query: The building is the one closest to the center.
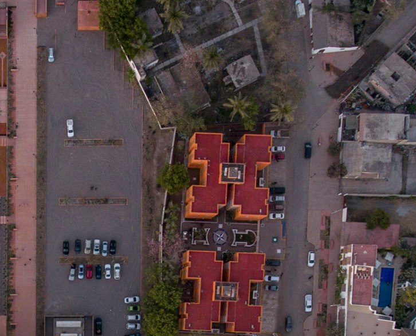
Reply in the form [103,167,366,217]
[184,133,272,221]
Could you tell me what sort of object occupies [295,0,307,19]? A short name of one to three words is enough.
vehicle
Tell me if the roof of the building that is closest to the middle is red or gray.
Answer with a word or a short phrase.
red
